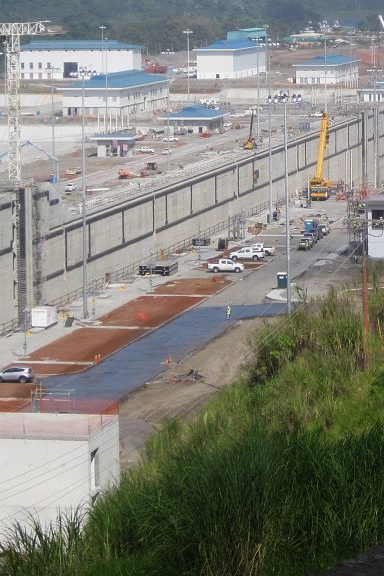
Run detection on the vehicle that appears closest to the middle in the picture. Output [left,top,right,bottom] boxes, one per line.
[209,257,243,270]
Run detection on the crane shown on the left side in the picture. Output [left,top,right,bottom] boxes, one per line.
[0,19,63,182]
